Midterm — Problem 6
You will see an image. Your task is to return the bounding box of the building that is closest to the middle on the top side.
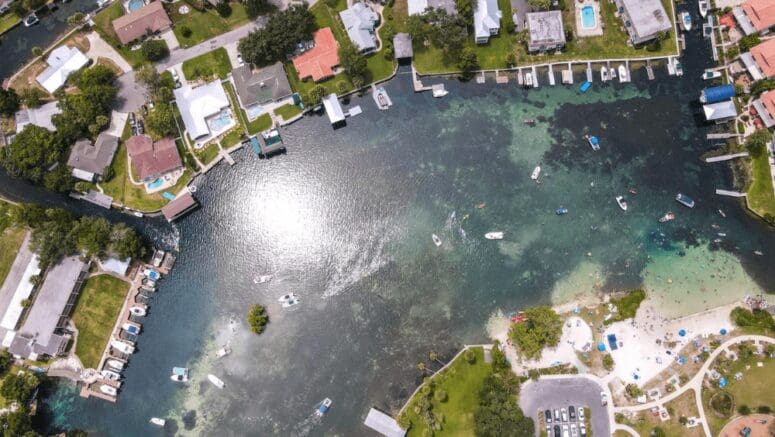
[322,93,345,125]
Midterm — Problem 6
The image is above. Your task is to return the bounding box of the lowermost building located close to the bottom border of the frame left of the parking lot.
[363,404,403,437]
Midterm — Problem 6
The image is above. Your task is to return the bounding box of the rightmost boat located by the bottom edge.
[315,401,328,416]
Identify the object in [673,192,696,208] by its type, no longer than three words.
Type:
boat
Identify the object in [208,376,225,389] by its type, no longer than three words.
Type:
boat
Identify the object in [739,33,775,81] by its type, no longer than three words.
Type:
house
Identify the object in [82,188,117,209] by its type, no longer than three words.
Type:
building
